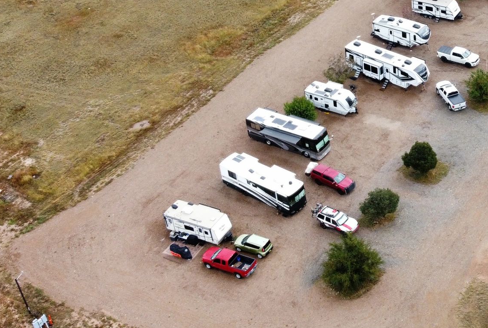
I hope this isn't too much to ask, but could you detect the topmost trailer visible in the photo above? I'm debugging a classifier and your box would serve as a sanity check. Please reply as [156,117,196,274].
[410,0,462,22]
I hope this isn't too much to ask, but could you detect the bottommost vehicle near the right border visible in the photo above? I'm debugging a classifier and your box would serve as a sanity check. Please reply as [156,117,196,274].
[434,81,466,111]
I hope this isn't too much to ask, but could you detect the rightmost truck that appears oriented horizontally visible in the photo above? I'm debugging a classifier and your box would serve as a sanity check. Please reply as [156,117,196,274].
[436,46,480,68]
